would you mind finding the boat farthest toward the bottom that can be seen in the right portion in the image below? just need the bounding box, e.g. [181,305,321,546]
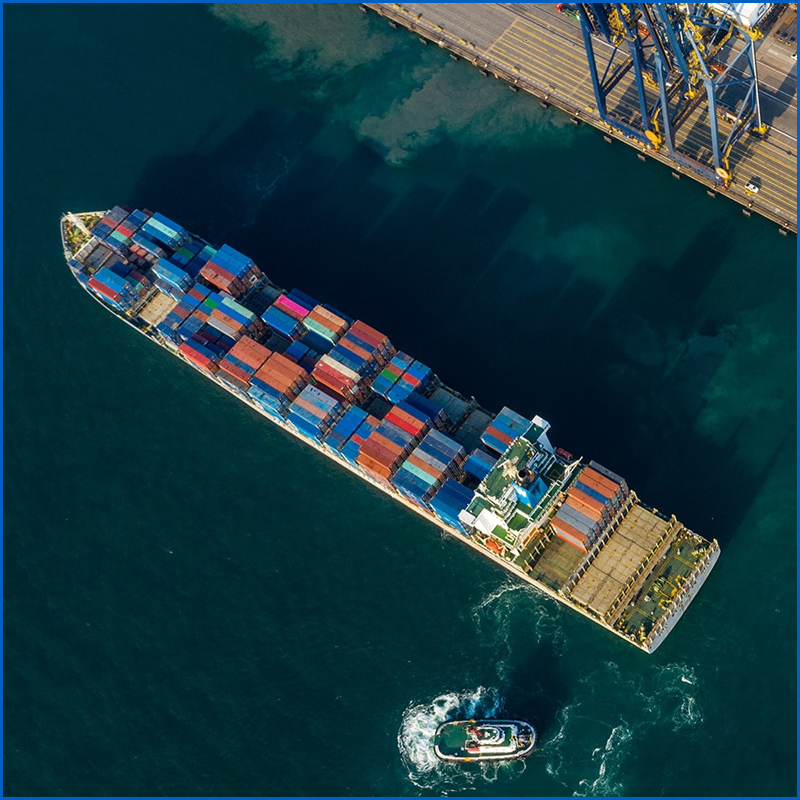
[431,717,541,763]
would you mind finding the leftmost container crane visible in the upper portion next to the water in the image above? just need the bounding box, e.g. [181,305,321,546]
[574,0,695,147]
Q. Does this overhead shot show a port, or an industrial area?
port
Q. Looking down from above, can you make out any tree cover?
No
